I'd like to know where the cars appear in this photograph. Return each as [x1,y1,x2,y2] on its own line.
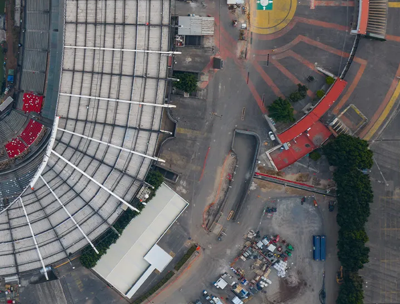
[268,131,276,141]
[233,19,238,28]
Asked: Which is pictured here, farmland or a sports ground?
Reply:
sports ground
